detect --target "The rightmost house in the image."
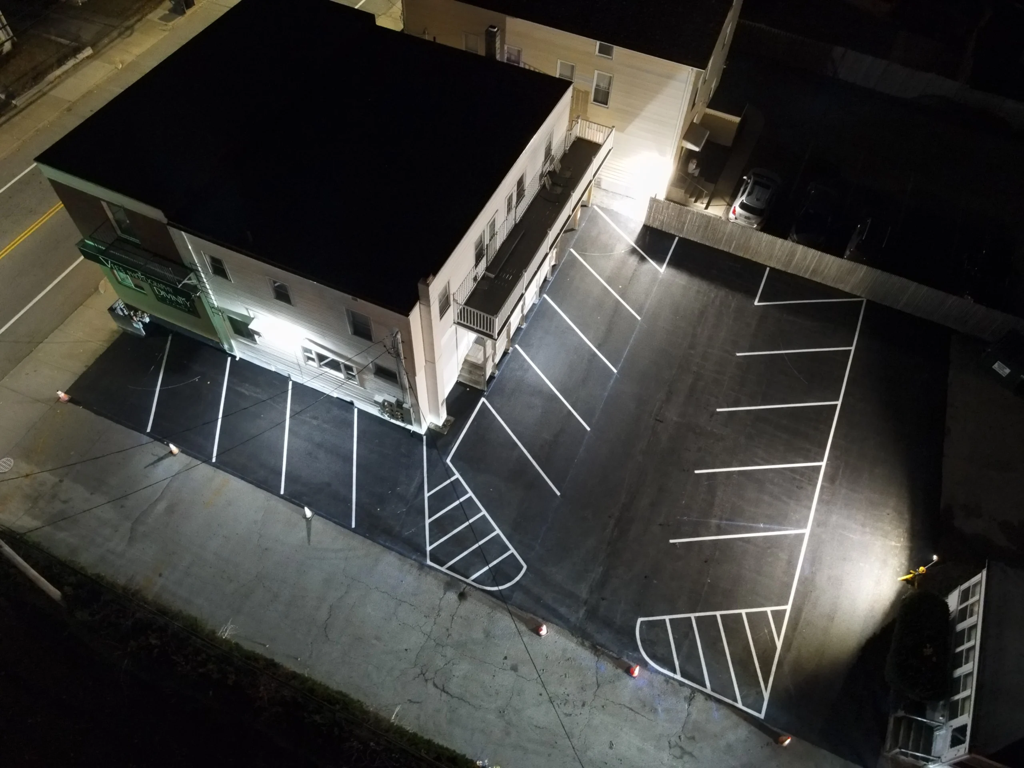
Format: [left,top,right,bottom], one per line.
[878,554,1024,768]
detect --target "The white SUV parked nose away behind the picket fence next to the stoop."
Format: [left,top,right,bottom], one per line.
[727,163,782,230]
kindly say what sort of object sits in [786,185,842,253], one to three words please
car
